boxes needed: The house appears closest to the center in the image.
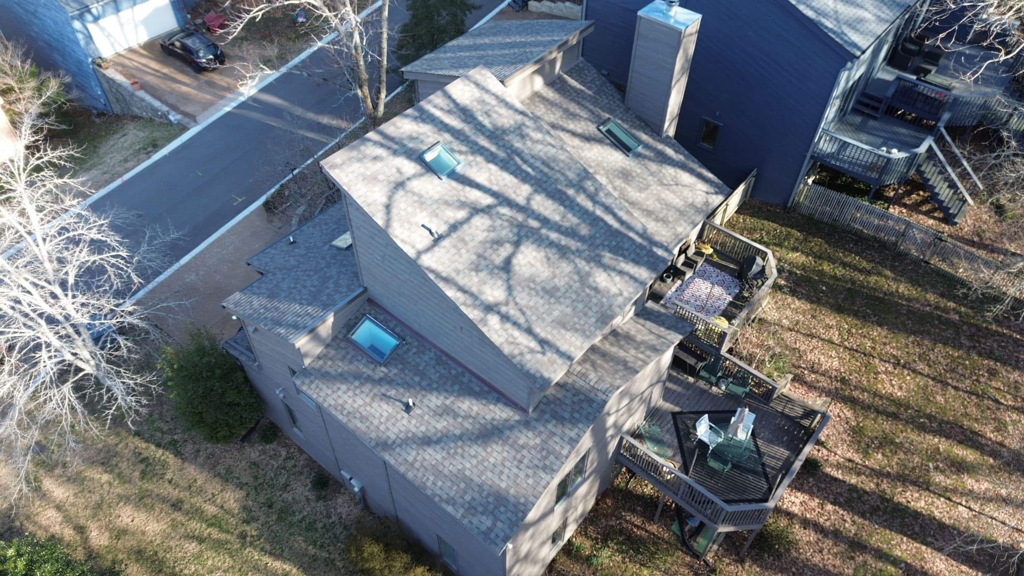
[219,0,735,576]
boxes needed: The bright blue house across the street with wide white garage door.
[0,0,214,112]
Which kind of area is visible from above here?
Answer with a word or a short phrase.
residential area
